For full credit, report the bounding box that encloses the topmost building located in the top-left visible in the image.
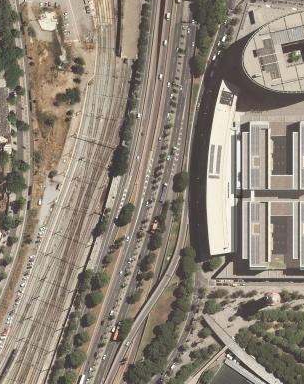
[38,12,58,32]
